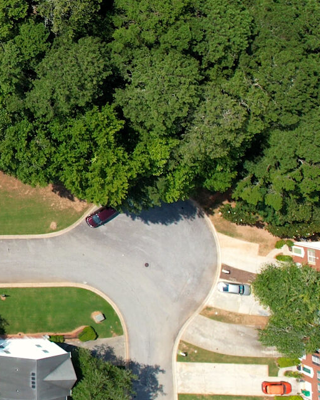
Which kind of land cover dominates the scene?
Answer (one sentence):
For the most part, this view shows trees.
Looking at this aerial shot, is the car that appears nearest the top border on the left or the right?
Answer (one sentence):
The car that appears nearest the top border is on the left side of the image.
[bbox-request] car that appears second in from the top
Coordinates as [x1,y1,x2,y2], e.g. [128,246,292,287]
[217,281,250,296]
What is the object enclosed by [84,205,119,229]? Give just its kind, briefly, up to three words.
car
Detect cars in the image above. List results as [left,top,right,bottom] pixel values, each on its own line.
[259,380,292,397]
[84,205,119,229]
[217,281,250,296]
